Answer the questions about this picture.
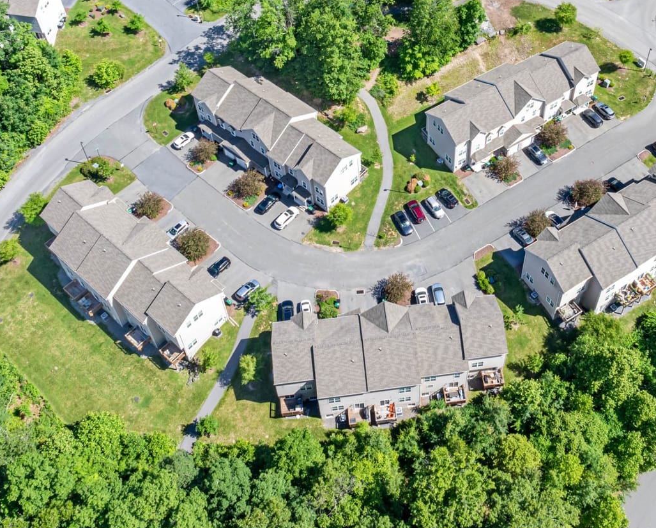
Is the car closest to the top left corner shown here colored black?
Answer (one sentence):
No, the car closest to the top left corner is white.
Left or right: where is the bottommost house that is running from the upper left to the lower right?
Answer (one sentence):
The bottommost house that is running from the upper left to the lower right sits on the left side.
